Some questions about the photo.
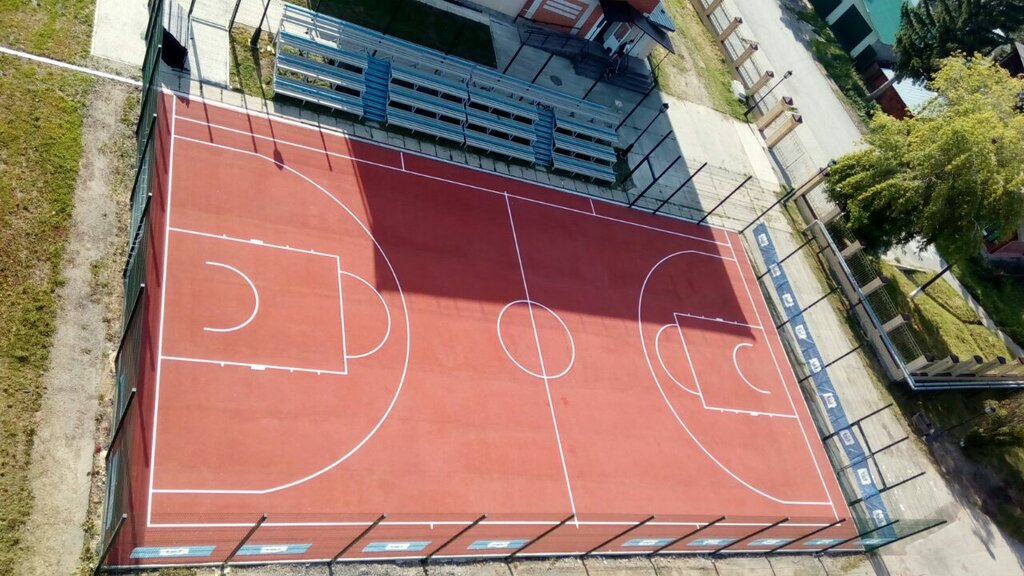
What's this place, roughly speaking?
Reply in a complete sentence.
It's a sports ground.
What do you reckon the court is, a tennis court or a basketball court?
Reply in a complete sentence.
It looks like the court is a basketball court.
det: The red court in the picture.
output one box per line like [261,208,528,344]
[101,89,866,575]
